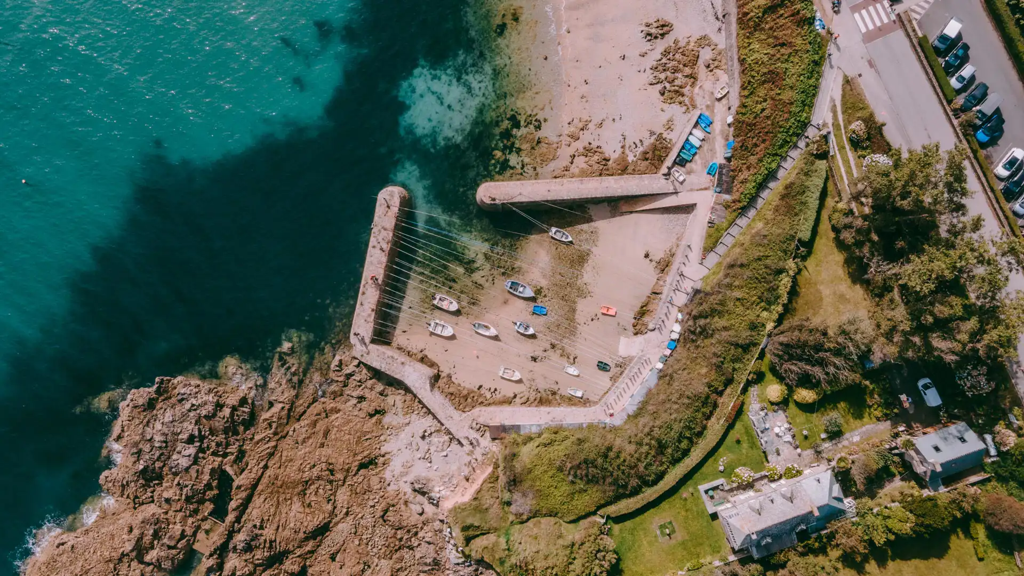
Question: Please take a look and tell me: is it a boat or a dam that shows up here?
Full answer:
It is a boat that can be seen here.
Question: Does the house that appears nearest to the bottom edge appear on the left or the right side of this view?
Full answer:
It is on the right.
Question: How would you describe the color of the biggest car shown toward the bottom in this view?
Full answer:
The biggest car shown toward the bottom looks blue in the image.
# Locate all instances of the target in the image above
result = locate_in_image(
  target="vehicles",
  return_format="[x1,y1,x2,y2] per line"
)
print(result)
[994,147,1024,180]
[941,42,972,74]
[917,377,942,408]
[973,113,1007,142]
[951,63,978,93]
[933,15,971,57]
[1011,193,1024,217]
[973,91,1011,124]
[1000,168,1024,199]
[959,80,991,113]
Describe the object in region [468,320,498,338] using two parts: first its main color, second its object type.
white boat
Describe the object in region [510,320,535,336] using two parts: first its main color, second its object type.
white boat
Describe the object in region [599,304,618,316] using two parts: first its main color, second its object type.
red boat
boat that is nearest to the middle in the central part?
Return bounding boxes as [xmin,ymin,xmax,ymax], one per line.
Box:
[503,278,535,298]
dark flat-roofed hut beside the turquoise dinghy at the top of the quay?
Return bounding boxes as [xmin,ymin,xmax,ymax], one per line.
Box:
[714,163,732,195]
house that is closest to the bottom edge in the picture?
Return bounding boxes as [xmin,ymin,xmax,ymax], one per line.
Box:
[708,462,851,571]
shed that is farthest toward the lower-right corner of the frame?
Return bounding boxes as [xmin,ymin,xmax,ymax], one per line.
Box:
[895,419,984,492]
